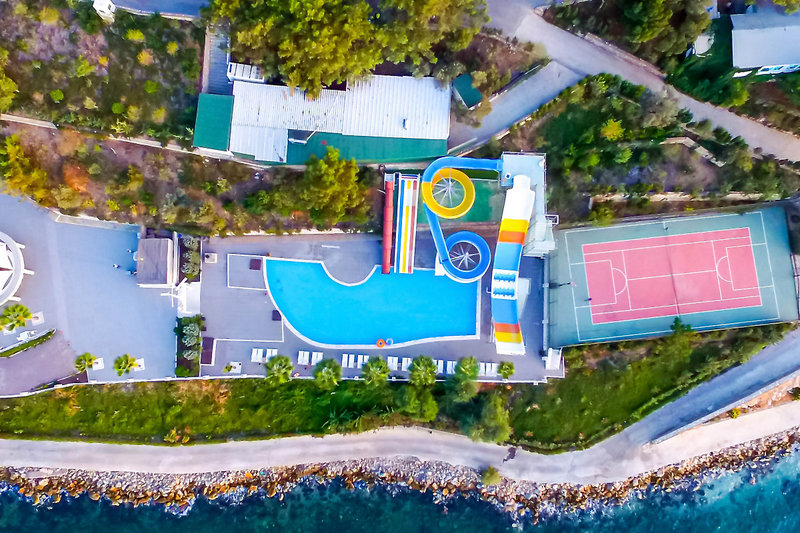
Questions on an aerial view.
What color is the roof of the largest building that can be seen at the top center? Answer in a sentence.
From above, the roof of the largest building that can be seen at the top center looks white.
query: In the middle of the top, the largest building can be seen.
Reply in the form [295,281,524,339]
[193,76,450,166]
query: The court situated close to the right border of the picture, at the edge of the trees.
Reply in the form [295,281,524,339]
[550,208,798,346]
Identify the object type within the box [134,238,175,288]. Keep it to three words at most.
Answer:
shed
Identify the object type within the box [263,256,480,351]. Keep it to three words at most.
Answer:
swimming pool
